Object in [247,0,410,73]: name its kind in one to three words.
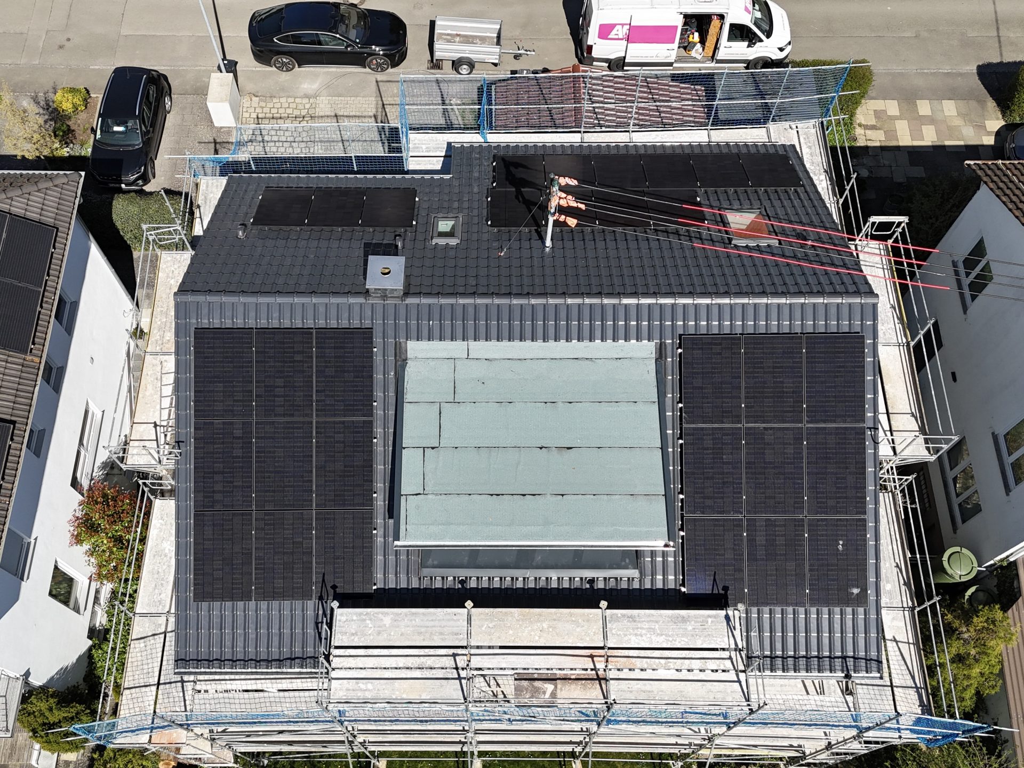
car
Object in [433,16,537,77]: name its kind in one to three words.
trailer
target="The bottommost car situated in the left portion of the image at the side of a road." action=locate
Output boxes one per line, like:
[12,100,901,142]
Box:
[83,58,170,198]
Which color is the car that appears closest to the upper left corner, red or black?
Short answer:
black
